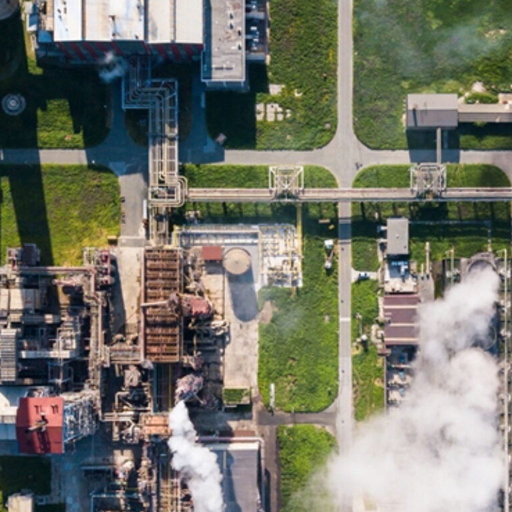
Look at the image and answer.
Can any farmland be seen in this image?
No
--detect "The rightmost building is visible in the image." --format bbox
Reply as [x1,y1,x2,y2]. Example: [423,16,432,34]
[458,100,512,125]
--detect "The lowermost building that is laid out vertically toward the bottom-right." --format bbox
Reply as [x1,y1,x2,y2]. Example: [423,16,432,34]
[384,347,418,432]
